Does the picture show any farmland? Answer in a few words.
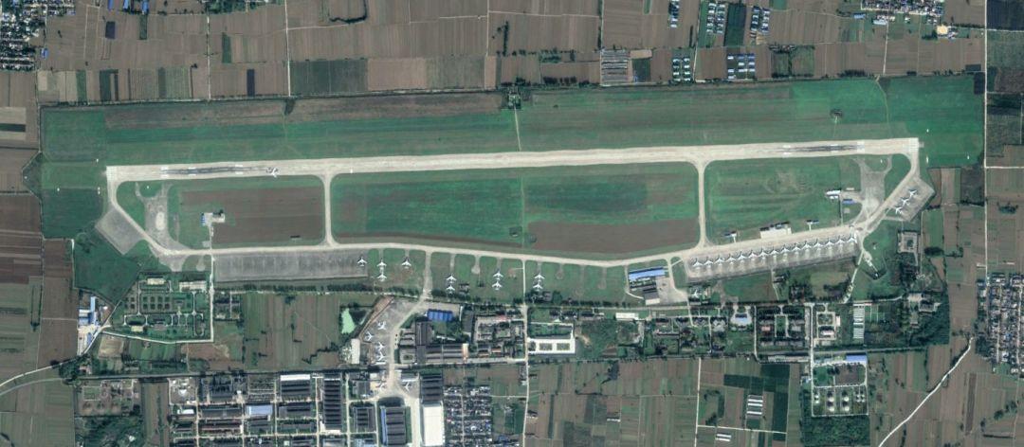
Yes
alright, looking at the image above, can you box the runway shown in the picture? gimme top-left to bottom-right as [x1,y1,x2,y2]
[106,138,919,182]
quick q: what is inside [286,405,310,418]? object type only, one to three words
building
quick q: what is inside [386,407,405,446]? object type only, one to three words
hangar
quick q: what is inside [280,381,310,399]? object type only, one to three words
building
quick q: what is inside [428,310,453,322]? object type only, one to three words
hangar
